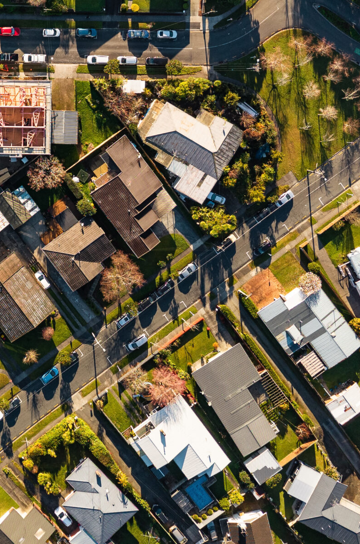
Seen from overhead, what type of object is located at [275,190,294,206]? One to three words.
car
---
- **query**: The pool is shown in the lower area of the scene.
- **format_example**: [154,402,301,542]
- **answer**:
[183,475,216,503]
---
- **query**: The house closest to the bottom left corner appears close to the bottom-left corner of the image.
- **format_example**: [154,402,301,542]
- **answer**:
[0,503,56,544]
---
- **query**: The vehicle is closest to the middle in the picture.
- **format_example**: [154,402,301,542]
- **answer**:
[178,263,195,279]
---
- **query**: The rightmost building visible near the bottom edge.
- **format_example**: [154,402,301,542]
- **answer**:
[285,461,360,544]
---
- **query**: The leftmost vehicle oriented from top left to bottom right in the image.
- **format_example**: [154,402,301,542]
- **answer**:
[34,271,49,289]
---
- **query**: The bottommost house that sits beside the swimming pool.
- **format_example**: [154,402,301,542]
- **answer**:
[219,506,273,544]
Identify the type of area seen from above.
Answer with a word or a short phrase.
residential area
